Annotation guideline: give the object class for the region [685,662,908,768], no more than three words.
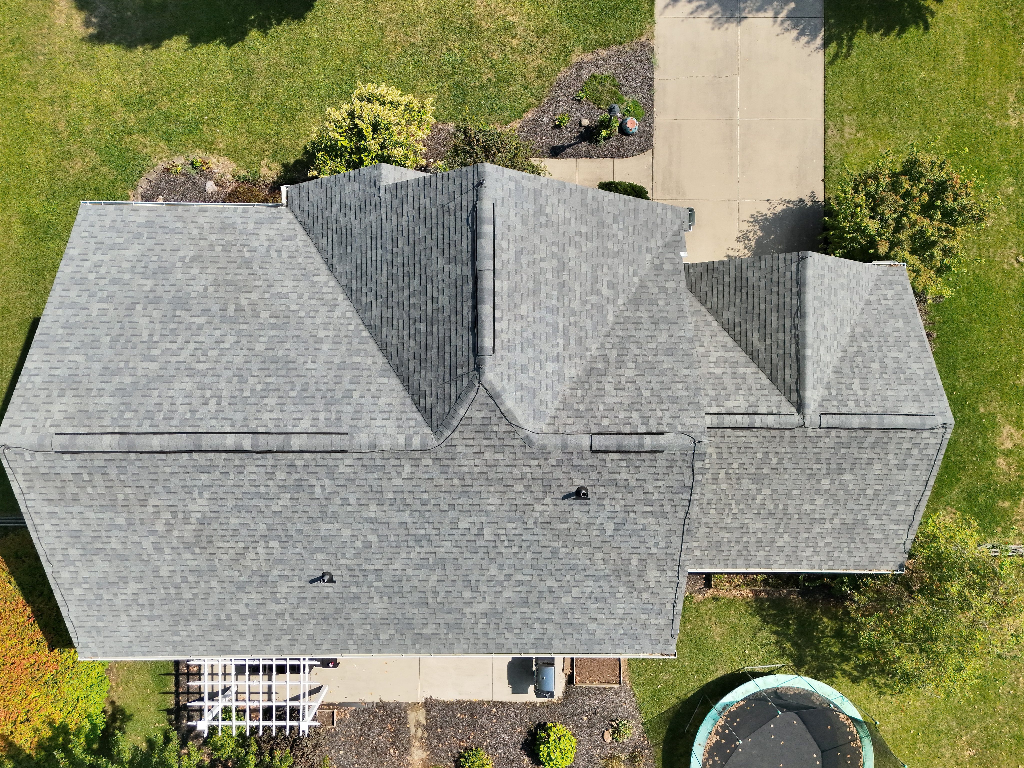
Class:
trampoline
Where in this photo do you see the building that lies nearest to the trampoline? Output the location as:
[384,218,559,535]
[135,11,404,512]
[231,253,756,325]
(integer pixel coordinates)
[0,163,955,660]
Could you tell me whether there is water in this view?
No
